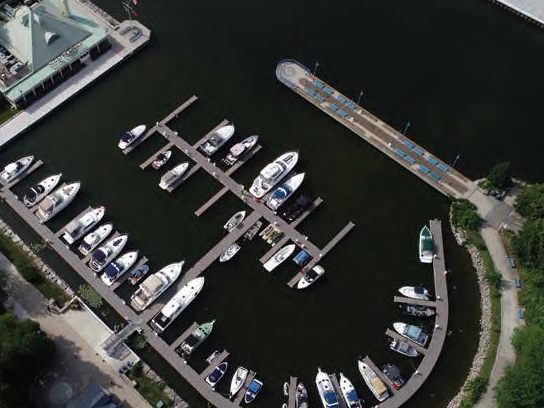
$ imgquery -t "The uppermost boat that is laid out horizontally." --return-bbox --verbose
[398,286,432,300]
